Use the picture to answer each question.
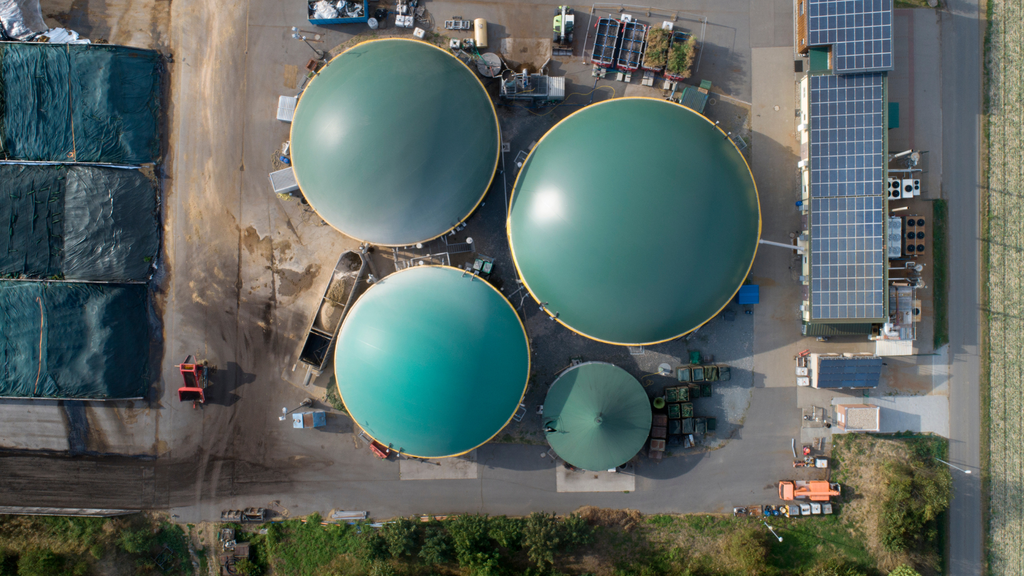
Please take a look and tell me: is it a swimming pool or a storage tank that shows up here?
storage tank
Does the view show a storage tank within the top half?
Yes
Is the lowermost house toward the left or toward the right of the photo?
right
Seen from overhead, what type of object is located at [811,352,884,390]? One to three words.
shed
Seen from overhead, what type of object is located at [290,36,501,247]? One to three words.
storage tank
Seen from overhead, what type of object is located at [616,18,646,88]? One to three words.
trailer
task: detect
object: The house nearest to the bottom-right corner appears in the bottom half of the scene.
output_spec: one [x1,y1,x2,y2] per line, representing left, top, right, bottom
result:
[835,404,881,431]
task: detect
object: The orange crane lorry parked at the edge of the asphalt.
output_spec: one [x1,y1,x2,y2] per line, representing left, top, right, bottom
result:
[775,477,843,502]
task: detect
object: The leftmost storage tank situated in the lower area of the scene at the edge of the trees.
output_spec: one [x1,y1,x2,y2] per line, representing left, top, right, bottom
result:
[334,264,531,460]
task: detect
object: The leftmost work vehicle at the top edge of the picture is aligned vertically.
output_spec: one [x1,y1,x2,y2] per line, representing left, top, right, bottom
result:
[552,5,573,56]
